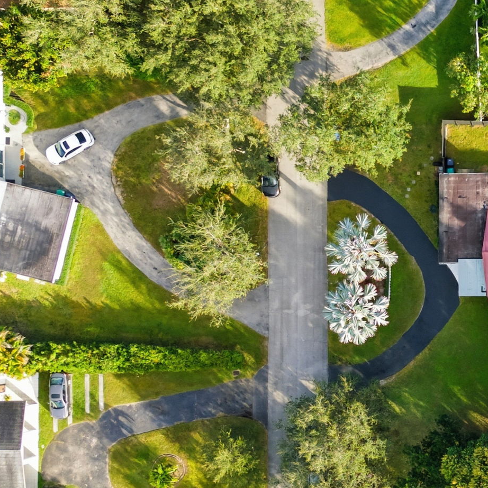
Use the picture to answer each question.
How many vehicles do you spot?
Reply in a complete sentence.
I count 3 vehicles.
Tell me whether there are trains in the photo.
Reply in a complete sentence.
No, I find no train anywhere in the image.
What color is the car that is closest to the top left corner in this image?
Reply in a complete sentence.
The car that is closest to the top left corner looks white in the image.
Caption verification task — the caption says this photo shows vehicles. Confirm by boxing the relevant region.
[259,150,282,199]
[46,128,96,165]
[47,373,72,419]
